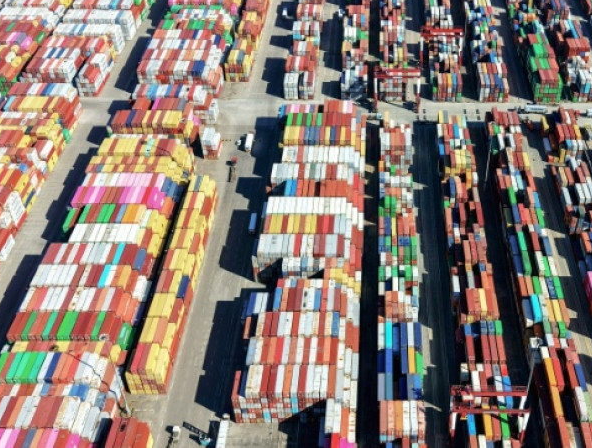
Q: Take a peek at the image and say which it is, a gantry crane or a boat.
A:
gantry crane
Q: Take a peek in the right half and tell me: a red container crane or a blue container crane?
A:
red container crane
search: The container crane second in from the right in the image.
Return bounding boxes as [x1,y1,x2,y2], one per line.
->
[418,26,467,66]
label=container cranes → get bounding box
[371,69,422,112]
[444,389,534,448]
[418,26,467,66]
